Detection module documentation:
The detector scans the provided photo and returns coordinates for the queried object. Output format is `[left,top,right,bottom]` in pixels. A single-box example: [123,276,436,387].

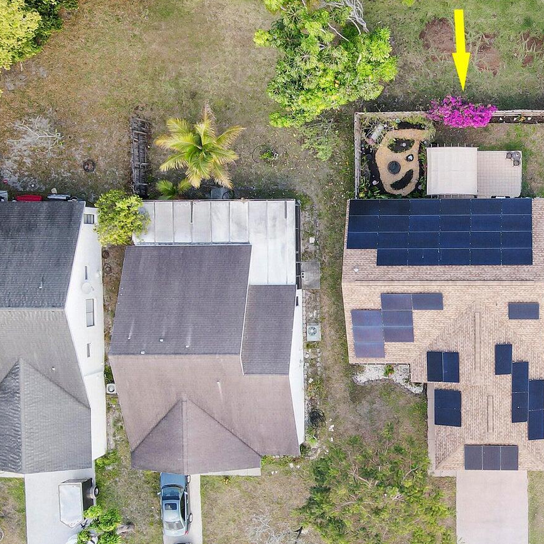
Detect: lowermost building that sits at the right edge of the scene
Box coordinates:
[342,197,544,472]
